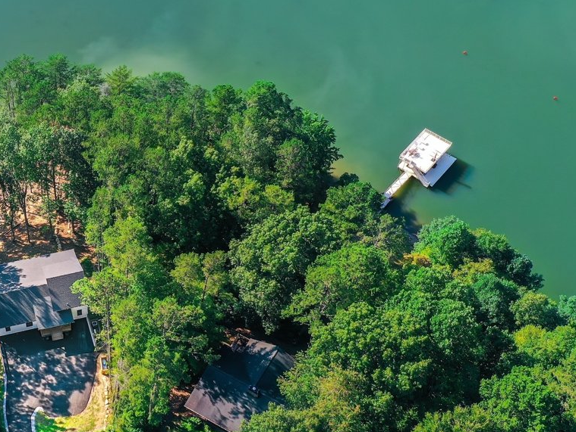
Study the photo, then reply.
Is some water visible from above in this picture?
Yes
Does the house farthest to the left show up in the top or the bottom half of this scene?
bottom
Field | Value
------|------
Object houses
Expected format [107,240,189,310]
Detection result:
[185,335,296,432]
[0,247,88,343]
